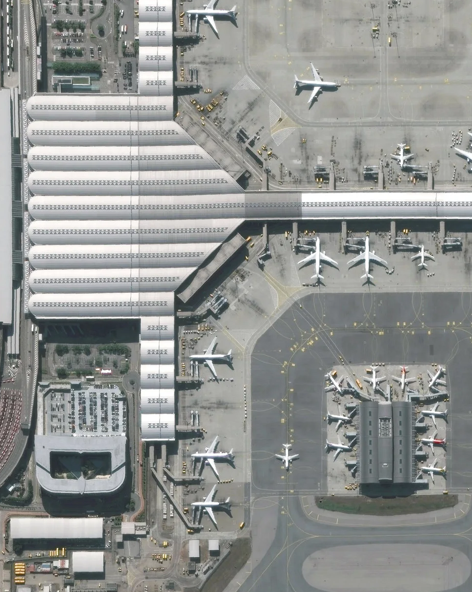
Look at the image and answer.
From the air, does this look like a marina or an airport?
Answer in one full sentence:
The picture captures an airport.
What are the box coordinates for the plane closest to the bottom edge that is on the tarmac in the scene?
[191,482,232,523]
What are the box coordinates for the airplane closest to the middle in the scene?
[190,334,233,376]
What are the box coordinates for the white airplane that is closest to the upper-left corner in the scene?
[186,0,237,33]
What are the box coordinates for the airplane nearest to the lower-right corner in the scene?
[422,460,447,481]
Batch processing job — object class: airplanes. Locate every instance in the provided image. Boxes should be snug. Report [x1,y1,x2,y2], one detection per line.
[326,406,351,428]
[413,246,433,267]
[422,460,447,481]
[275,444,299,470]
[391,143,411,167]
[428,366,446,388]
[422,431,446,452]
[325,434,353,458]
[345,236,387,279]
[191,482,232,523]
[391,365,415,393]
[296,238,337,279]
[423,402,448,426]
[186,0,237,33]
[324,371,342,394]
[192,432,234,475]
[292,62,336,103]
[363,366,385,391]
[190,334,233,376]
